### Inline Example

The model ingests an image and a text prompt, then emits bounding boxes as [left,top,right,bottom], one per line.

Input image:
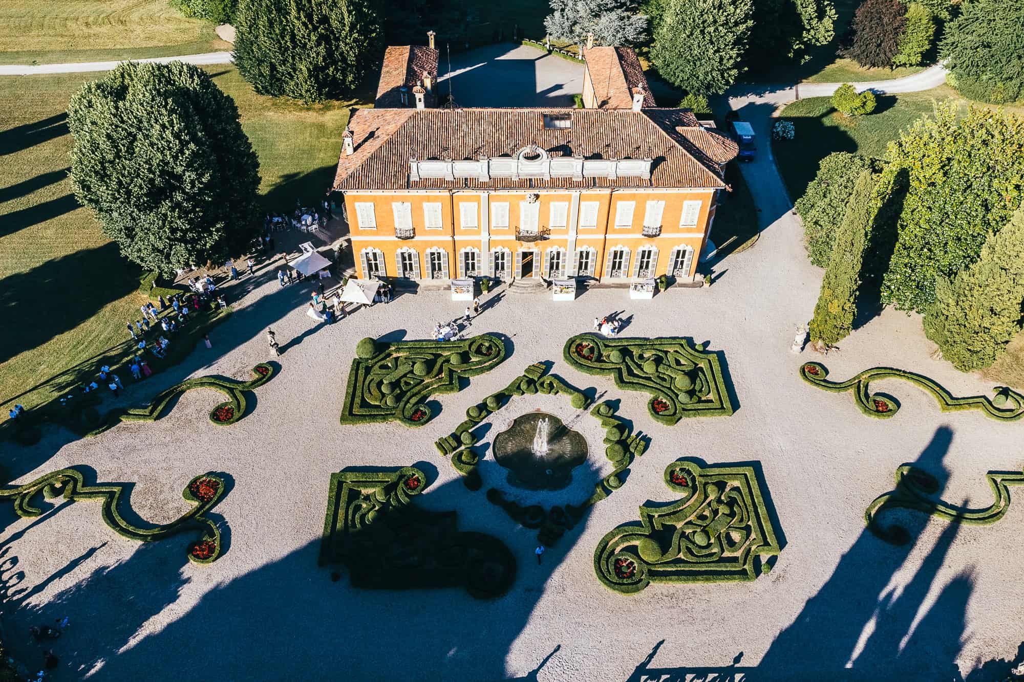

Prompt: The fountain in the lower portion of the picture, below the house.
[492,412,589,493]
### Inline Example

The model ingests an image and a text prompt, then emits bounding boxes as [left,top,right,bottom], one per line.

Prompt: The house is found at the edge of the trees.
[328,17,740,296]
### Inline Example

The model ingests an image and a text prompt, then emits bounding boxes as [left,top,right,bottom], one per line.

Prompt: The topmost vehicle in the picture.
[719,99,740,123]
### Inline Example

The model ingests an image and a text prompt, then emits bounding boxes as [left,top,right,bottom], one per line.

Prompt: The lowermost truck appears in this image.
[730,122,758,162]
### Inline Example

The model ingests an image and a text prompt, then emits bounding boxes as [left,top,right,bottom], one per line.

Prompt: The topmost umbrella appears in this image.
[286,249,332,285]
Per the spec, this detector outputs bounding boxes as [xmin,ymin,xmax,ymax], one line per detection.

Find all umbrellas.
[339,278,383,314]
[286,249,332,285]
